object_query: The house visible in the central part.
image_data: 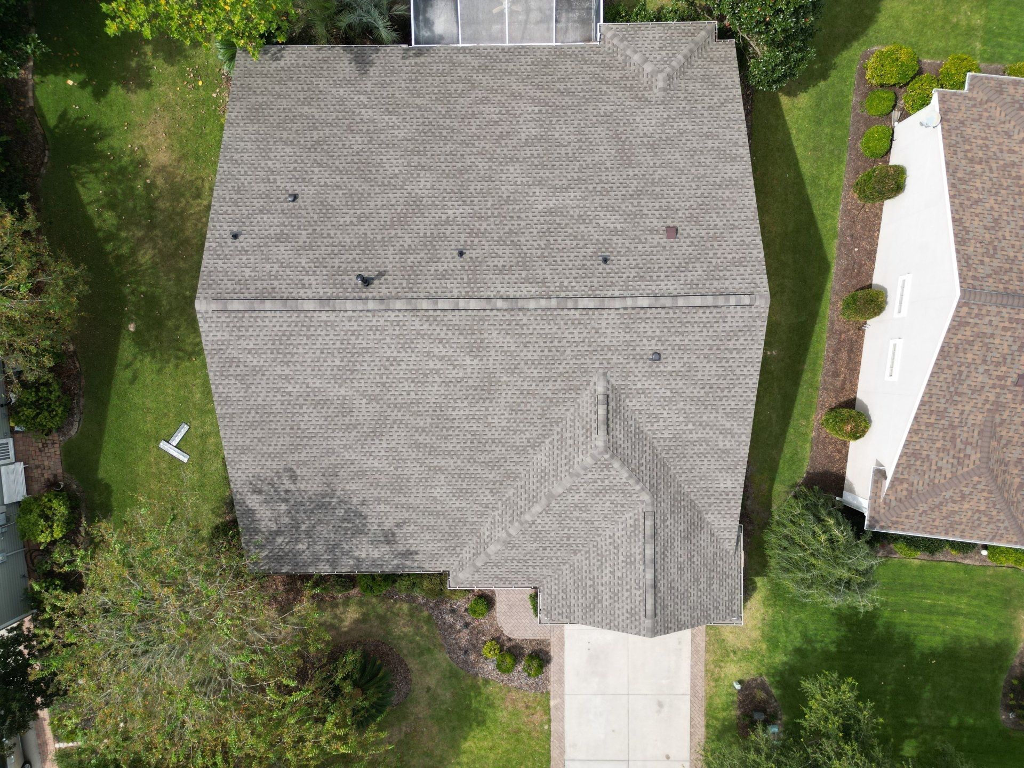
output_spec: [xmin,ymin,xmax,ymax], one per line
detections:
[195,19,770,634]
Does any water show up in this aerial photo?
No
